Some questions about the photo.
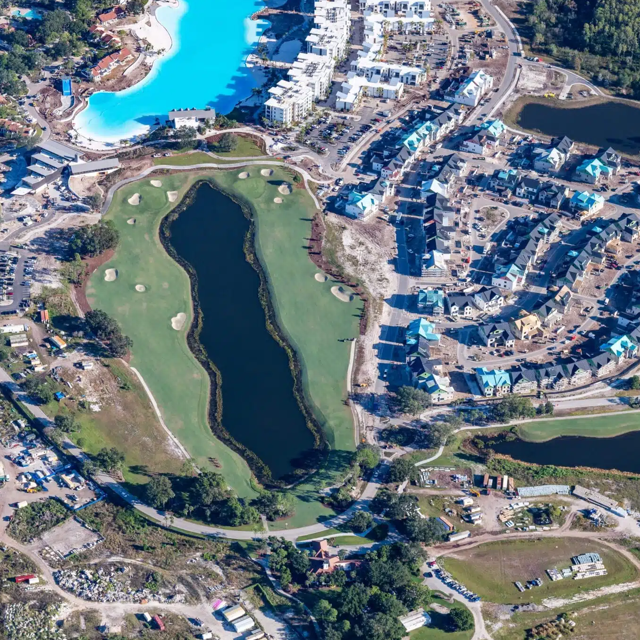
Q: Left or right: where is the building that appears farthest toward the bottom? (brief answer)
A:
right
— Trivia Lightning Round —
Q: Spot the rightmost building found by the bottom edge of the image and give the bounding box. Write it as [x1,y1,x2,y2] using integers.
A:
[404,608,431,636]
